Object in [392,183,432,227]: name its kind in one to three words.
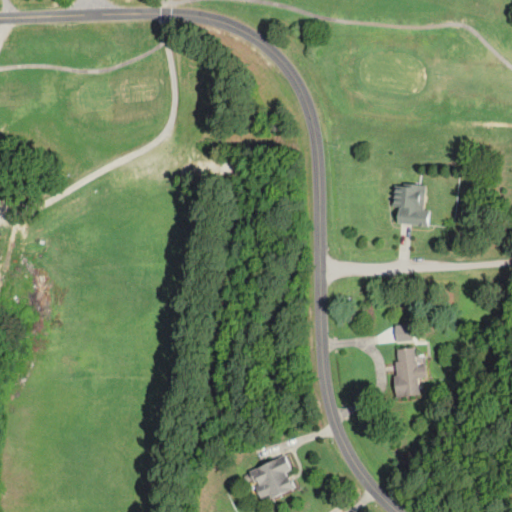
house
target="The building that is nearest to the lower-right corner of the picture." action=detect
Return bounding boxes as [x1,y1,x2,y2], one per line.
[392,346,428,398]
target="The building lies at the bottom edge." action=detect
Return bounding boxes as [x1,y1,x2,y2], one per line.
[250,456,298,501]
